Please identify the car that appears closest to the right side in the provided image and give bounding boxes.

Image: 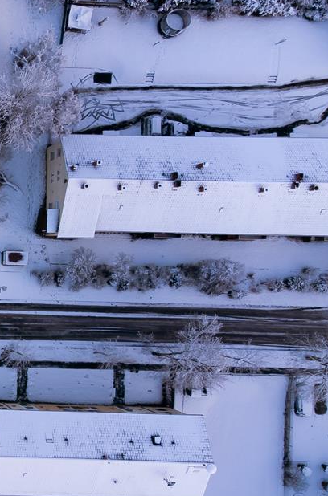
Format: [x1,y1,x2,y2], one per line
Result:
[312,388,328,420]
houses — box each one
[46,135,328,252]
[0,403,217,496]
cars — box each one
[294,386,310,417]
[312,388,328,420]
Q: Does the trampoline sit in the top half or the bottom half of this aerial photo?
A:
top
